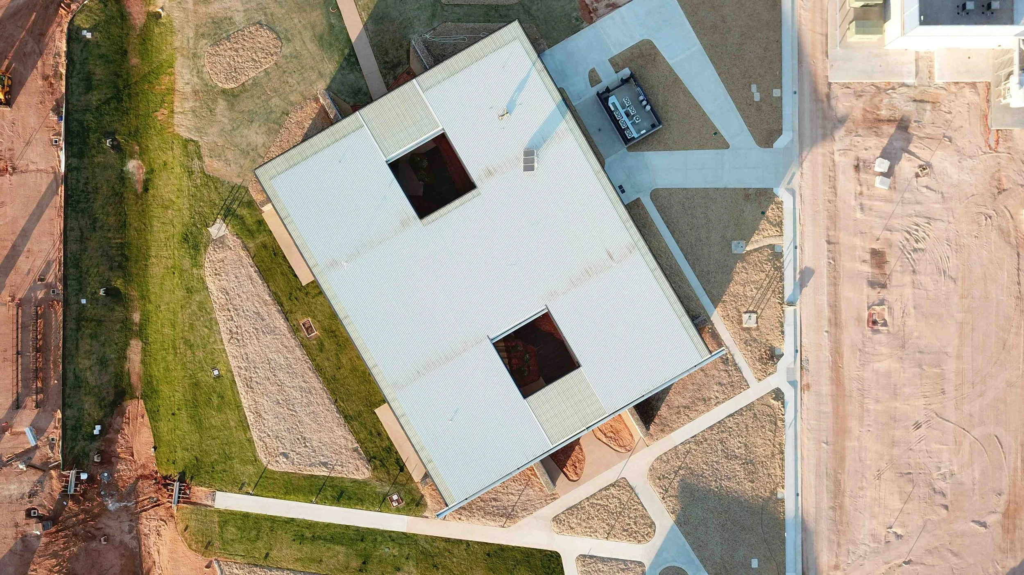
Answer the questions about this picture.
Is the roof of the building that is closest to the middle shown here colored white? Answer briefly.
Yes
